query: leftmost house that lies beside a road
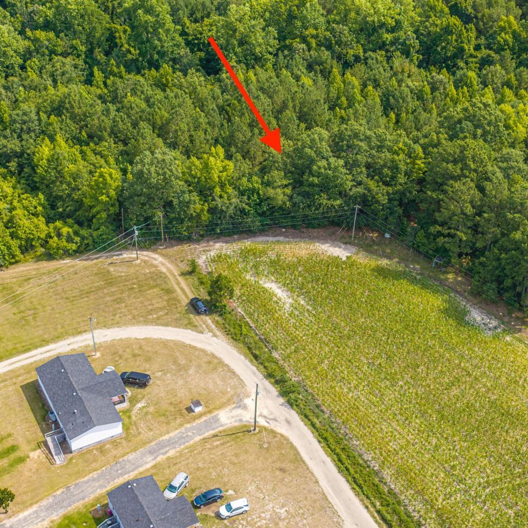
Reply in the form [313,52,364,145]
[36,354,124,452]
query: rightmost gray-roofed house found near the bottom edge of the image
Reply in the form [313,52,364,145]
[107,474,201,528]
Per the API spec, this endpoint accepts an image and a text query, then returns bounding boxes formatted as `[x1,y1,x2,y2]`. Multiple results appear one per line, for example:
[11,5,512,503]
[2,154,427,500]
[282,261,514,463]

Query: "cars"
[165,468,190,499]
[189,297,208,315]
[120,372,153,390]
[95,365,118,375]
[191,487,226,511]
[216,496,252,521]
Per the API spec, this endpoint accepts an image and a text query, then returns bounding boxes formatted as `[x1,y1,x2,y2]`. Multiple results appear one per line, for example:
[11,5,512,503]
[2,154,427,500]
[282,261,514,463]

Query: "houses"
[36,354,124,452]
[107,474,201,528]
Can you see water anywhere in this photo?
No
